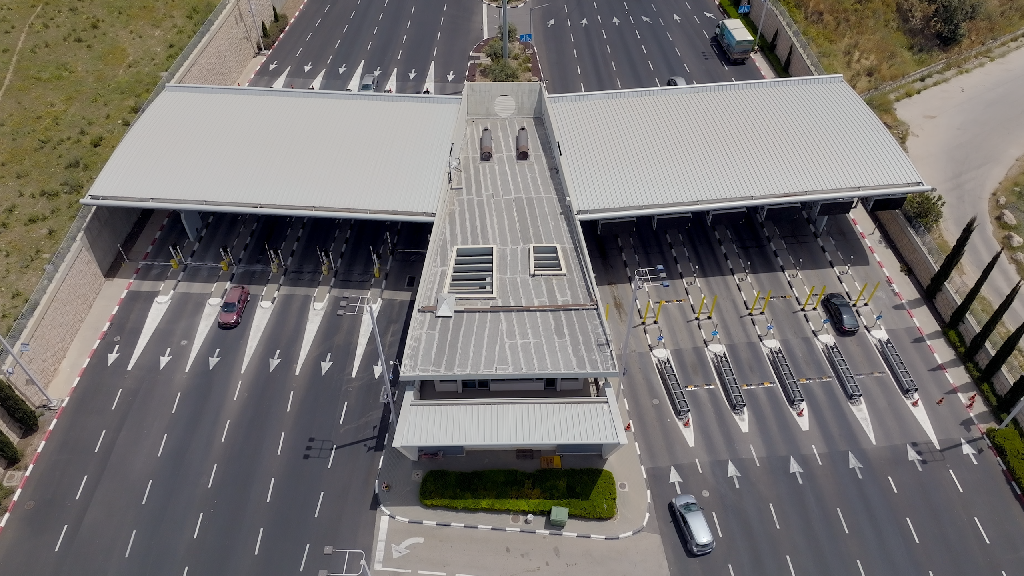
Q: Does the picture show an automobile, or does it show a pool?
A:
automobile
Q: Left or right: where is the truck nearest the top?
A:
right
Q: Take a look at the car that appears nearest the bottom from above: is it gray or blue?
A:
gray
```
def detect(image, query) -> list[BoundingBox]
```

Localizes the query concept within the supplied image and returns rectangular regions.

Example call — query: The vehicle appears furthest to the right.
[824,295,864,338]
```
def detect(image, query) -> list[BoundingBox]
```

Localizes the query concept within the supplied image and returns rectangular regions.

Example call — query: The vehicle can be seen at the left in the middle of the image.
[221,283,254,329]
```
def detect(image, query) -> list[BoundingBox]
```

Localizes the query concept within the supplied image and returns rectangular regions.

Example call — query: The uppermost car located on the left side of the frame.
[359,74,377,91]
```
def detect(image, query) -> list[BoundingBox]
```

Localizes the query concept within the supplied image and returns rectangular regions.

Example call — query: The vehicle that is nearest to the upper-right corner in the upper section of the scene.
[715,17,755,62]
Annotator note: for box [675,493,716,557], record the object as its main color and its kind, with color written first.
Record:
gray car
